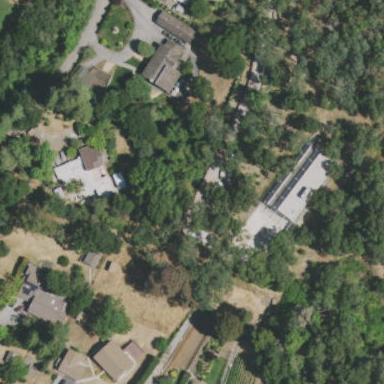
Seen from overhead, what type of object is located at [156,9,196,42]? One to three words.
building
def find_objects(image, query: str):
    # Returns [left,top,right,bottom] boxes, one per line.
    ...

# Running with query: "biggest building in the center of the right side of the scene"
[278,153,330,222]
